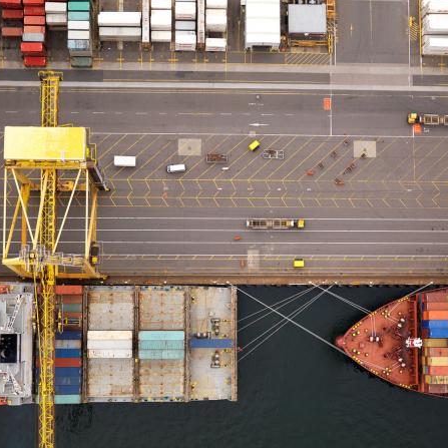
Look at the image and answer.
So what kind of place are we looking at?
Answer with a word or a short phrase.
port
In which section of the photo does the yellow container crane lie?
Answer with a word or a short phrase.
left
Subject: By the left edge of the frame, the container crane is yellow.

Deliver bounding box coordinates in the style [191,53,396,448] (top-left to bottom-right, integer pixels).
[0,70,118,448]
